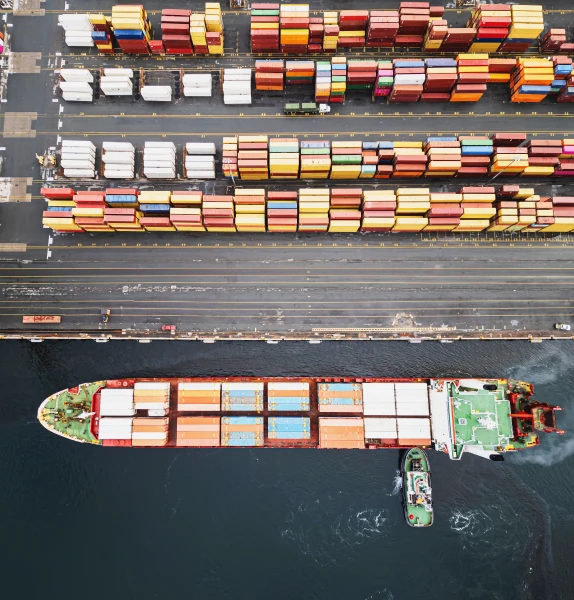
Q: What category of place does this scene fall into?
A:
port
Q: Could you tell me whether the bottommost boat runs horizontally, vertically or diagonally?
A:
vertically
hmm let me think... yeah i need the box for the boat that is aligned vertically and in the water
[401,448,436,530]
